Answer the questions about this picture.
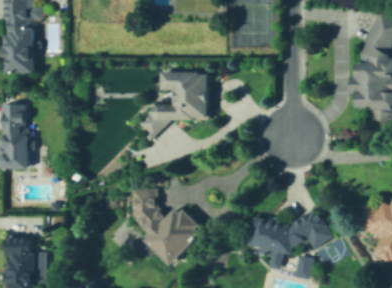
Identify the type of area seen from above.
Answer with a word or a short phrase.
residential area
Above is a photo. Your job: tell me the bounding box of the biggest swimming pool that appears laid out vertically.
[47,17,60,54]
